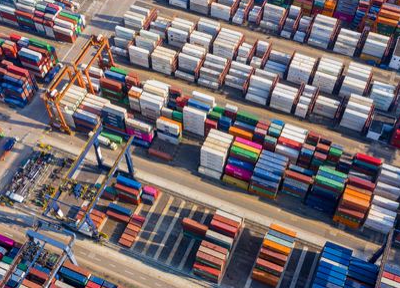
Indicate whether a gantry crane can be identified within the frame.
Yes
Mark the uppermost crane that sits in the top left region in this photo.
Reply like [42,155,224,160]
[69,34,115,87]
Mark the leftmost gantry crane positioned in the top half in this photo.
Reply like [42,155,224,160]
[40,66,90,128]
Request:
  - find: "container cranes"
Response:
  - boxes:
[0,220,82,288]
[69,34,115,87]
[366,227,400,288]
[40,66,90,128]
[43,127,137,239]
